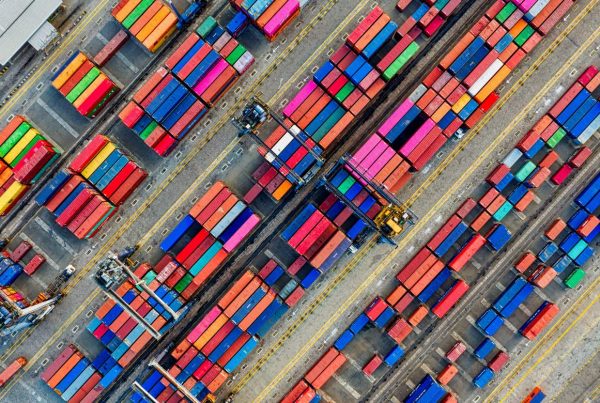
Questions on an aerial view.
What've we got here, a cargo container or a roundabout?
cargo container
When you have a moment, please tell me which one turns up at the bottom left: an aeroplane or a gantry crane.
gantry crane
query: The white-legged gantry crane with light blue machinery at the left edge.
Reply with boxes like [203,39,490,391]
[0,280,64,340]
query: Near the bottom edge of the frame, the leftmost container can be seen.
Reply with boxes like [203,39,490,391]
[0,357,26,390]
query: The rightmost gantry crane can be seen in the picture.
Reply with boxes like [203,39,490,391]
[317,152,418,247]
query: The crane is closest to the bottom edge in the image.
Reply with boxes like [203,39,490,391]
[131,338,204,403]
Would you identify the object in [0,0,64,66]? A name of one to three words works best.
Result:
building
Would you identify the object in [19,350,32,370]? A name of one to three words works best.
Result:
vehicle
